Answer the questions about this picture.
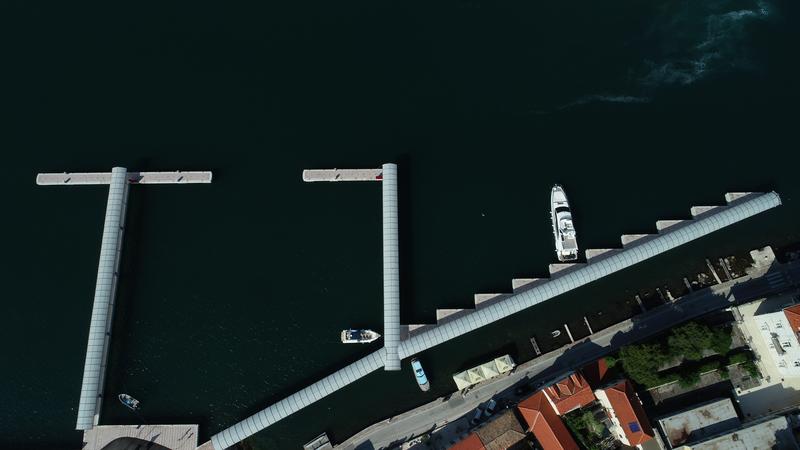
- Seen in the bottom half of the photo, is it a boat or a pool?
boat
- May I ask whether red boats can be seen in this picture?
No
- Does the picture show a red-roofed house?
Yes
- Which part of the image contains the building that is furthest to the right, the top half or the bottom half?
bottom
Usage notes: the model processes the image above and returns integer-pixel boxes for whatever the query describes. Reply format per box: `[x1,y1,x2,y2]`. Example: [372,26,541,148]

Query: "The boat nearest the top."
[548,181,584,269]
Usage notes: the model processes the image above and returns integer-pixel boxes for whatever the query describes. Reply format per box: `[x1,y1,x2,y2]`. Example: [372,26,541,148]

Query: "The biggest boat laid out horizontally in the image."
[341,328,380,344]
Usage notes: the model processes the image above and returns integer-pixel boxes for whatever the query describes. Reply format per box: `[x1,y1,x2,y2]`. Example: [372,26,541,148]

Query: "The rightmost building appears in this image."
[755,303,800,382]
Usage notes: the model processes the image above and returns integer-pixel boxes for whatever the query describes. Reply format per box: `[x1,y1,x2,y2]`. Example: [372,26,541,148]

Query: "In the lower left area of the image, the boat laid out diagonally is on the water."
[118,395,139,410]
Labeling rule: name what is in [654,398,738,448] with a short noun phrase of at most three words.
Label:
building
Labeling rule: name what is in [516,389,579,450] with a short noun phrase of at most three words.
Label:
house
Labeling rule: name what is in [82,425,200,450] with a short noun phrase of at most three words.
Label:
pier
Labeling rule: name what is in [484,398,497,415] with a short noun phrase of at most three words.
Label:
vehicle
